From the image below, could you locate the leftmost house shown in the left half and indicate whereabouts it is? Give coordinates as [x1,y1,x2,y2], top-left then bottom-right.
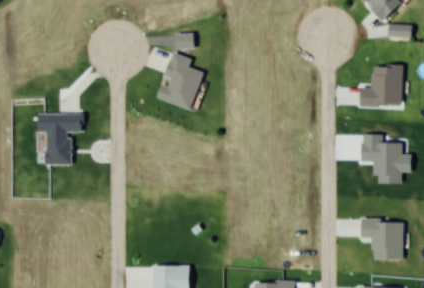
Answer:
[38,112,83,164]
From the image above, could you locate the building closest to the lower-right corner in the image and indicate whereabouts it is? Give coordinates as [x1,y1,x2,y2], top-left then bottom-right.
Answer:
[362,218,404,260]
